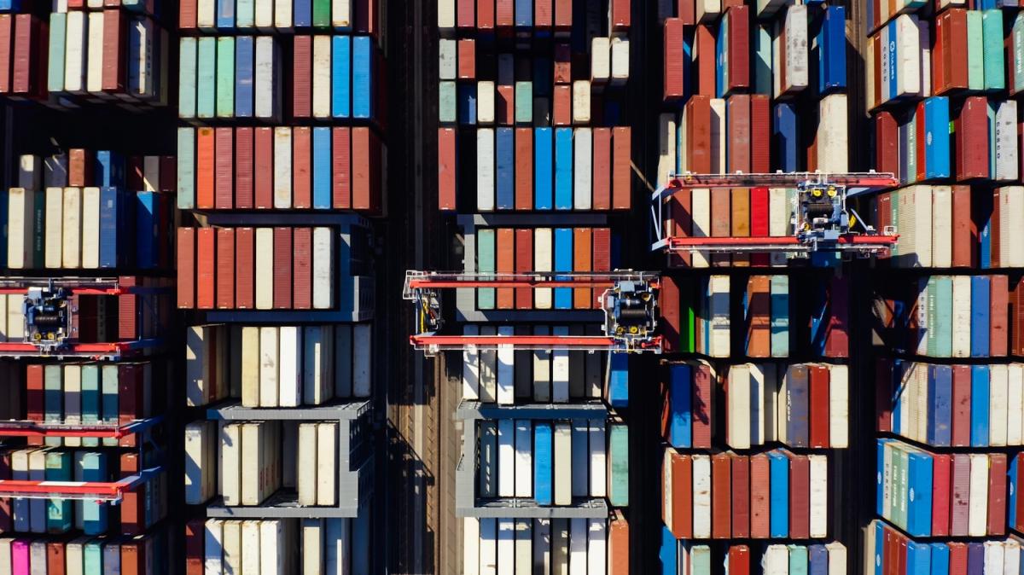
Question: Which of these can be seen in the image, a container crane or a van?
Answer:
container crane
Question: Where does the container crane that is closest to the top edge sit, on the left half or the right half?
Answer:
right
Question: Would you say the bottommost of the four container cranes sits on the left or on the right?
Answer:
left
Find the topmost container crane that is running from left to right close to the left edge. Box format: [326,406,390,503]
[0,274,190,364]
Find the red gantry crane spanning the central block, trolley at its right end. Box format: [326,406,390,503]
[403,268,662,362]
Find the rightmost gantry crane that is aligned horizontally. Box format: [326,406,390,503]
[642,168,900,264]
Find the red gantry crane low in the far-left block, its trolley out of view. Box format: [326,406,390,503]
[0,396,191,505]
